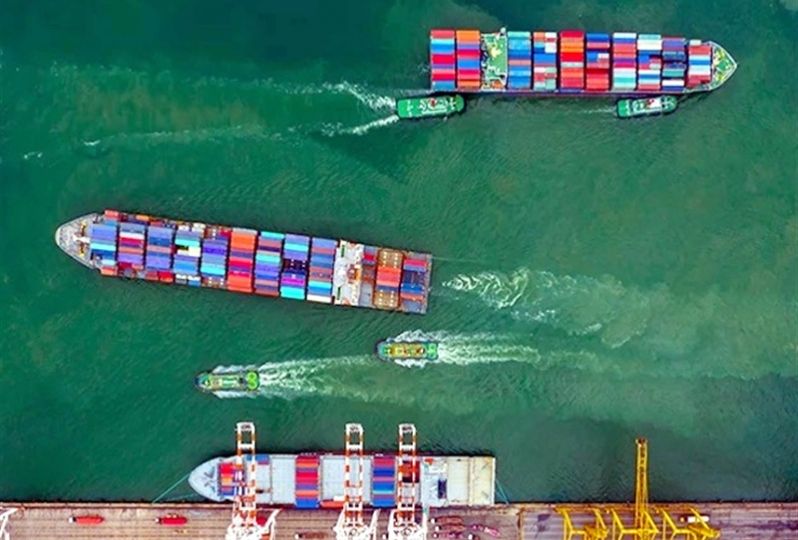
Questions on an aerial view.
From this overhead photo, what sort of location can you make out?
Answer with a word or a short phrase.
port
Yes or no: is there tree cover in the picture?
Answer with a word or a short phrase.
No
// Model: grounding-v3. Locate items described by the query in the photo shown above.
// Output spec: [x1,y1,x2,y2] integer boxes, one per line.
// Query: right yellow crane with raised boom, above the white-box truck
[657,507,724,540]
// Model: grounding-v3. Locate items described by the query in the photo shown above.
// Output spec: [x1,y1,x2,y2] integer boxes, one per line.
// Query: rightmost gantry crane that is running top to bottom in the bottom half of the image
[609,437,659,540]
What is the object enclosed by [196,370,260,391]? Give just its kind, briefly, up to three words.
boat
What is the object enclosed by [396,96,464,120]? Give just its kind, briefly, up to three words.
boat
